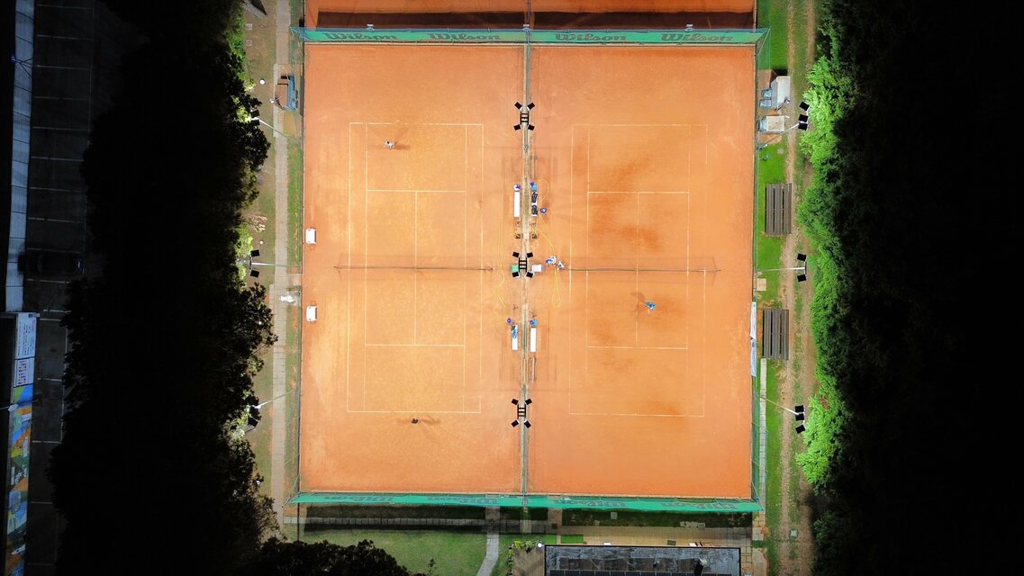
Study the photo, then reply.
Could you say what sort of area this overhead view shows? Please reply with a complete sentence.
This image shows a sports ground.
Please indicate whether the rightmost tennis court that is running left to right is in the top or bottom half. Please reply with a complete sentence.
The top half of the photo is where the rightmost tennis court that is running left to right is.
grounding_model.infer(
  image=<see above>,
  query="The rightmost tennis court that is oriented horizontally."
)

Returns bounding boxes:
[531,0,757,34]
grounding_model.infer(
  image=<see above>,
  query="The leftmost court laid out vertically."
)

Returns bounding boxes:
[300,45,521,495]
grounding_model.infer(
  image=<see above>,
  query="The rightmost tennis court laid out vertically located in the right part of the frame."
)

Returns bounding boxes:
[528,46,755,499]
